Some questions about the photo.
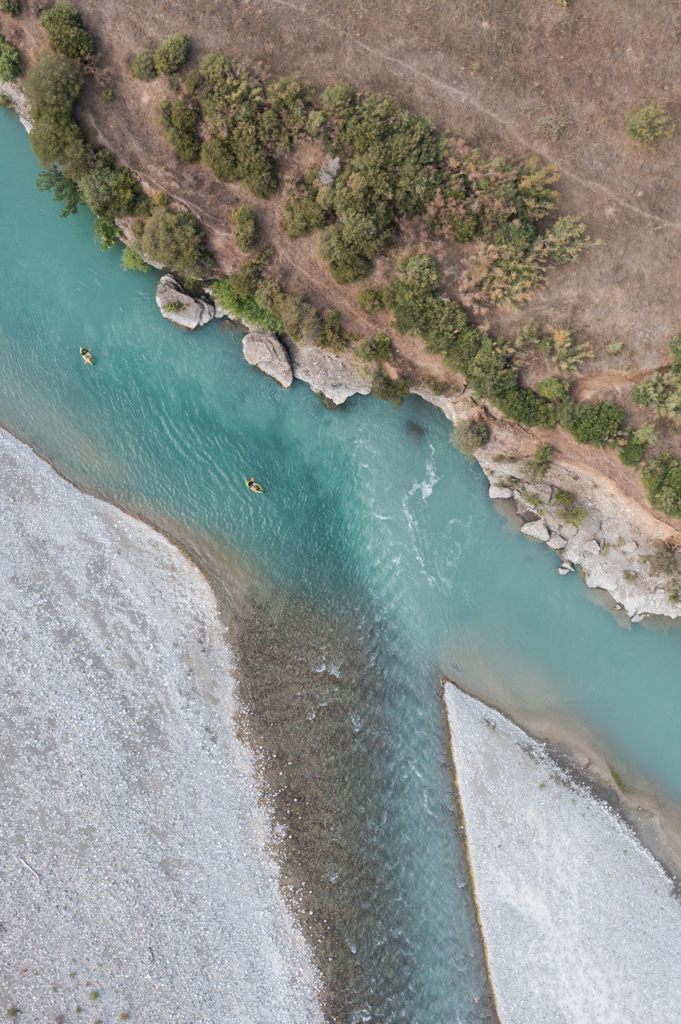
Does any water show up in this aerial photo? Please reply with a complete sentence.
Yes, water shows up in the scene.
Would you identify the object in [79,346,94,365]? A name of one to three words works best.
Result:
boat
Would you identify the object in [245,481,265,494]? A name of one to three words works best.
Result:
boat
